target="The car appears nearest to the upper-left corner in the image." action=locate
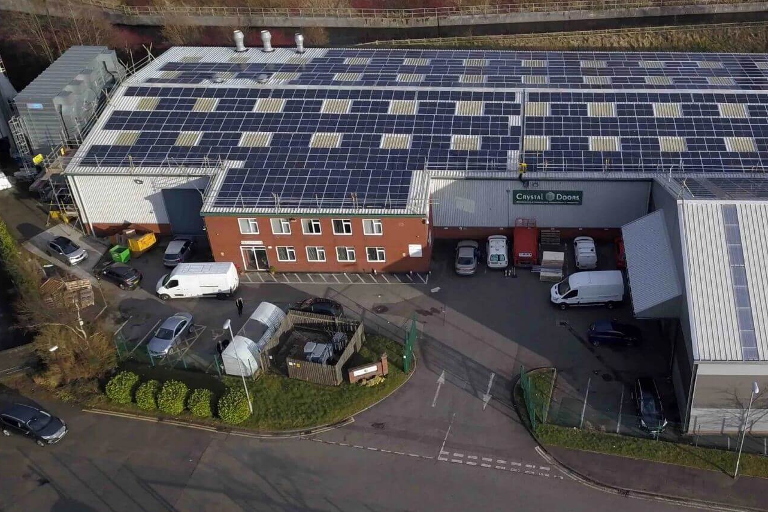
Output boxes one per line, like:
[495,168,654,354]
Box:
[39,232,91,264]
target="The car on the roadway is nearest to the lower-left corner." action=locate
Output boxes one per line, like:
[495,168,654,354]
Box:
[0,399,67,446]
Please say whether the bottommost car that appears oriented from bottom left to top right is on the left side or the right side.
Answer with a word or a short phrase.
left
